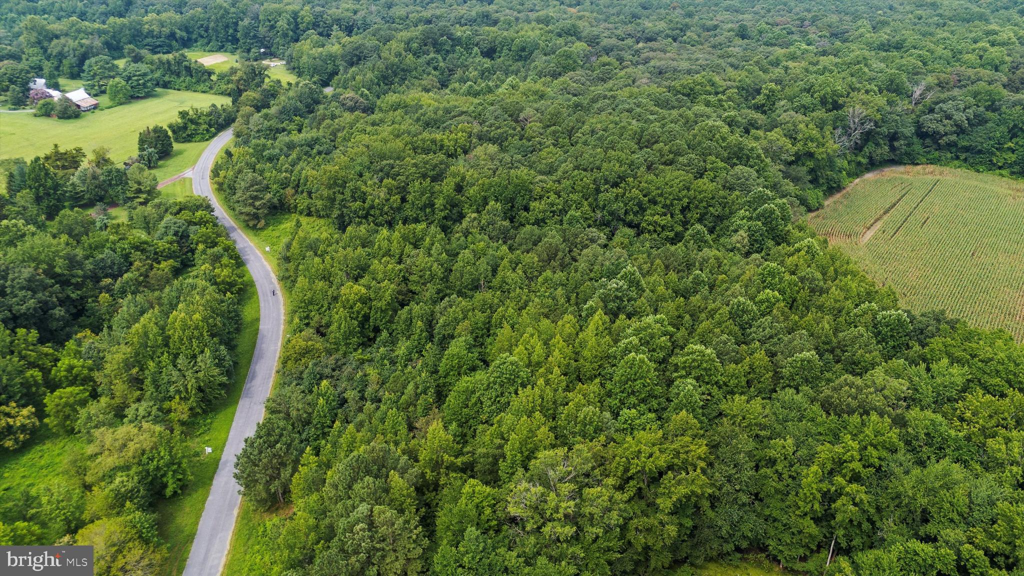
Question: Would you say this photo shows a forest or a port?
forest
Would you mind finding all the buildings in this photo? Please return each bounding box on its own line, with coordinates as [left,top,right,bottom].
[59,91,99,112]
[28,77,62,94]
